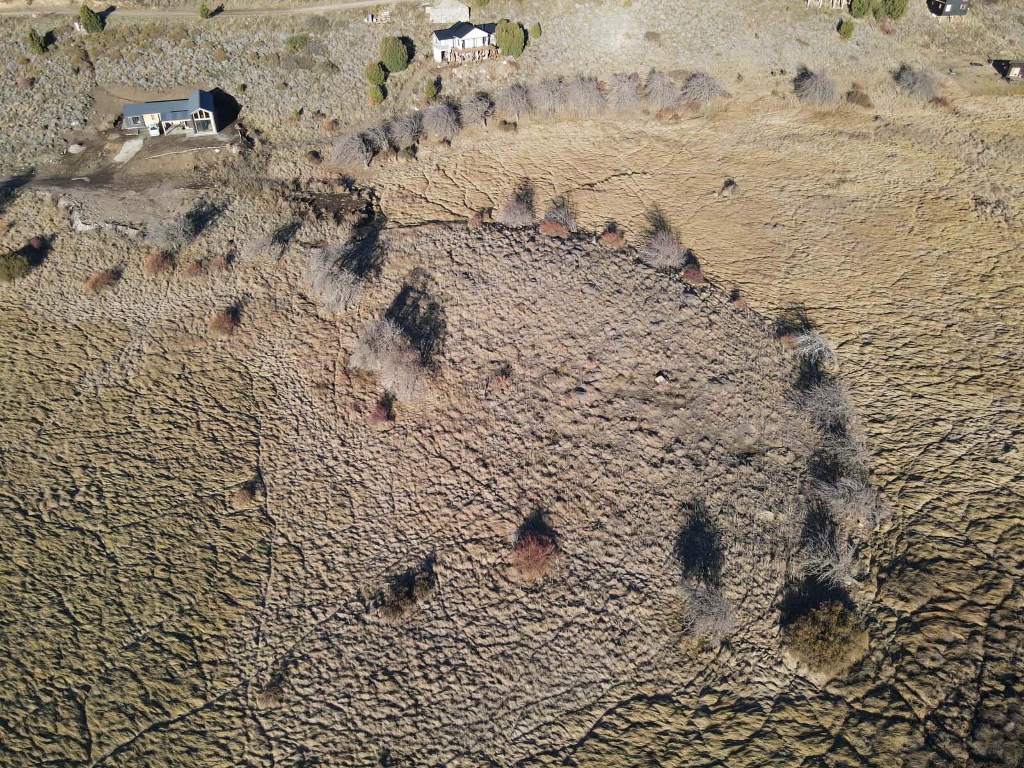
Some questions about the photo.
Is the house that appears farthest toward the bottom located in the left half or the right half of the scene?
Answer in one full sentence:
You can find the house that appears farthest toward the bottom on the left side of the picture.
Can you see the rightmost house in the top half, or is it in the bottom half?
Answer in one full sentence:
The top half of the photo is where the rightmost house is.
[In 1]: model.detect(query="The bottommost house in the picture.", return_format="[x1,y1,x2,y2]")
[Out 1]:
[120,89,228,137]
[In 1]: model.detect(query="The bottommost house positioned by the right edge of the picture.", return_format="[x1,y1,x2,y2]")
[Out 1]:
[993,53,1024,82]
